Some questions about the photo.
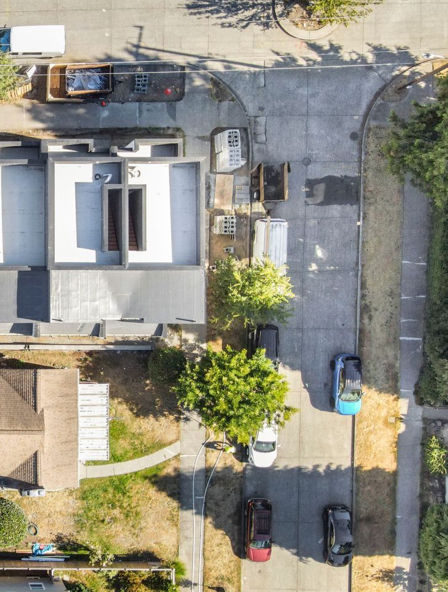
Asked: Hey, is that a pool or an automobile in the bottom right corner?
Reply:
automobile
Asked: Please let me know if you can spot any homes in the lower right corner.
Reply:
No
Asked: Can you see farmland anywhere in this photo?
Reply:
No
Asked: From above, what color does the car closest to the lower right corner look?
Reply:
black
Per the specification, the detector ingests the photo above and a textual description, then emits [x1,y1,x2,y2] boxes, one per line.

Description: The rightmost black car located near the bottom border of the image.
[321,504,355,566]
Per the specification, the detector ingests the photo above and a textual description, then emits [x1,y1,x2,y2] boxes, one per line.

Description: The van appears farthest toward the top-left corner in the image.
[0,22,68,60]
